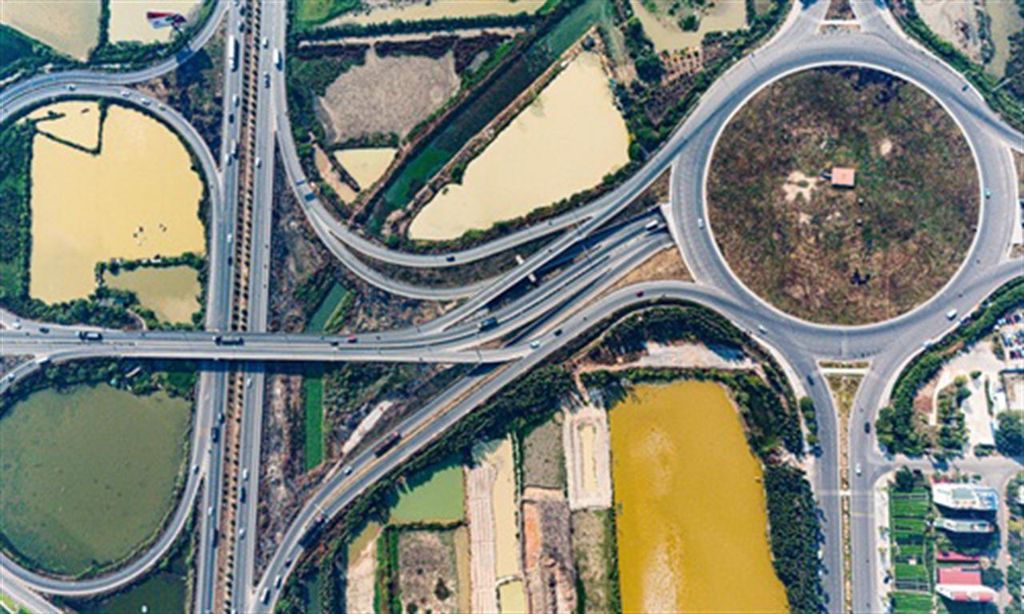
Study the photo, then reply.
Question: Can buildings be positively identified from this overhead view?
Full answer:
Yes, the photo shows a building.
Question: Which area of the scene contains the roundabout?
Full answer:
Look in the right portion of the view to spot the roundabout.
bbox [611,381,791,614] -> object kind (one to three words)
pond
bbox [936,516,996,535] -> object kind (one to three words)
house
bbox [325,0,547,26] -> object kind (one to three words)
pond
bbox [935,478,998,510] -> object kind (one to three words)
house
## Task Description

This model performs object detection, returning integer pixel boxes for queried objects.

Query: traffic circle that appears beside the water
[668,0,1024,614]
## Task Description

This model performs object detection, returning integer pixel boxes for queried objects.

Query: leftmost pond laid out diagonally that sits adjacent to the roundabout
[409,51,630,240]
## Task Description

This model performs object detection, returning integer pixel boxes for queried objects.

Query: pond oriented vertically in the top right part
[986,0,1019,79]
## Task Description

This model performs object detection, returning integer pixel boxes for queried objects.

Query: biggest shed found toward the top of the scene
[834,165,859,184]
